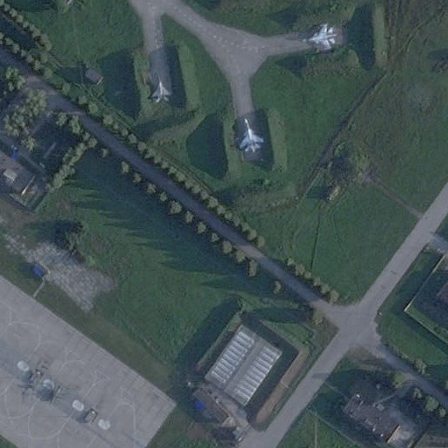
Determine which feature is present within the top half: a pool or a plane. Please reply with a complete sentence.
Visible within the top half is a plane.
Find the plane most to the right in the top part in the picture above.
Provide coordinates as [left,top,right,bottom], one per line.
[302,23,338,47]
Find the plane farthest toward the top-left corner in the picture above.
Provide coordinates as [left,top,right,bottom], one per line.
[154,81,170,105]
